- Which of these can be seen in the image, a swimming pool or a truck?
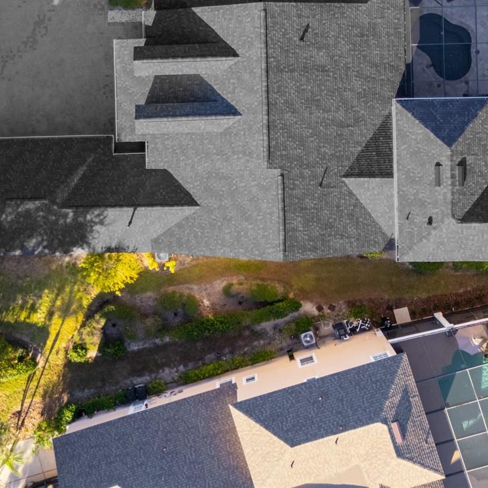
swimming pool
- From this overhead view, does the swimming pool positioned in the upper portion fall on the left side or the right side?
right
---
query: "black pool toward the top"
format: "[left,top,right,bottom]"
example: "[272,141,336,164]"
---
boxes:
[412,9,477,85]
